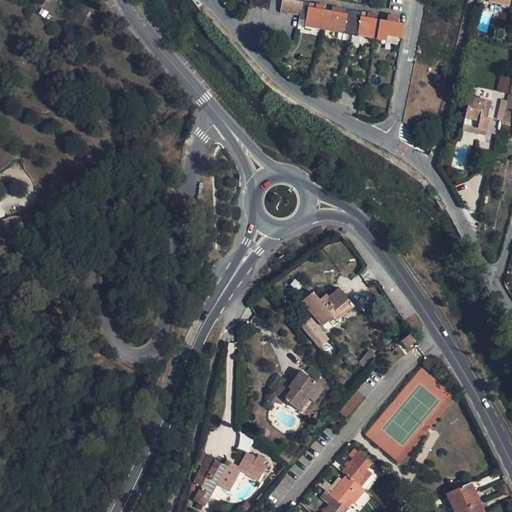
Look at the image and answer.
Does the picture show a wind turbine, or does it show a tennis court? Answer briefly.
tennis court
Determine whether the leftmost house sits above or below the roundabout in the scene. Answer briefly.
below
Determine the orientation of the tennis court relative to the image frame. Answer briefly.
at an angle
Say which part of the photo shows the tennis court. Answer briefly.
bottom right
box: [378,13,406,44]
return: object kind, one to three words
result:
house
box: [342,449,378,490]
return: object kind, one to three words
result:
house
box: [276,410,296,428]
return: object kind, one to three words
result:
swimming pool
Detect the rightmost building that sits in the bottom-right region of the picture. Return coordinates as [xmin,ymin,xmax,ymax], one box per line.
[449,484,486,512]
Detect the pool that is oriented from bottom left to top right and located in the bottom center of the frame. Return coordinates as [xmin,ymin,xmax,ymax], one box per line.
[236,484,256,500]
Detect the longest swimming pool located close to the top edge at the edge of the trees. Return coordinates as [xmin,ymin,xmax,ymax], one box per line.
[478,10,493,33]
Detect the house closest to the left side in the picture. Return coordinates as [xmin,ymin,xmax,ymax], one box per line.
[190,454,270,508]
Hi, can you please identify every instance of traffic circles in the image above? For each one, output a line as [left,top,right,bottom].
[242,149,346,264]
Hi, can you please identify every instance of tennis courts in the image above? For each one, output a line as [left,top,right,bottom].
[366,367,452,464]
